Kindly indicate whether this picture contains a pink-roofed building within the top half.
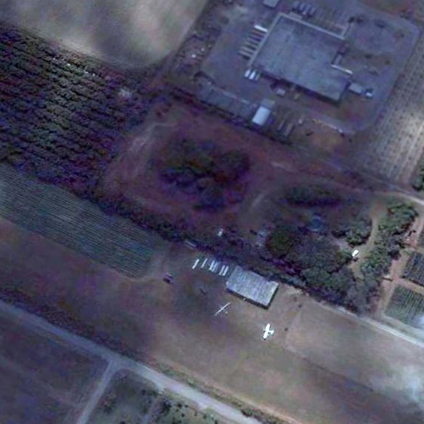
No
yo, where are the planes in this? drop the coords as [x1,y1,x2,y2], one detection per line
[215,300,229,318]
[263,324,275,338]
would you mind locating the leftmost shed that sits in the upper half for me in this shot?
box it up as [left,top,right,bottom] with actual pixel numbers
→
[196,80,253,117]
